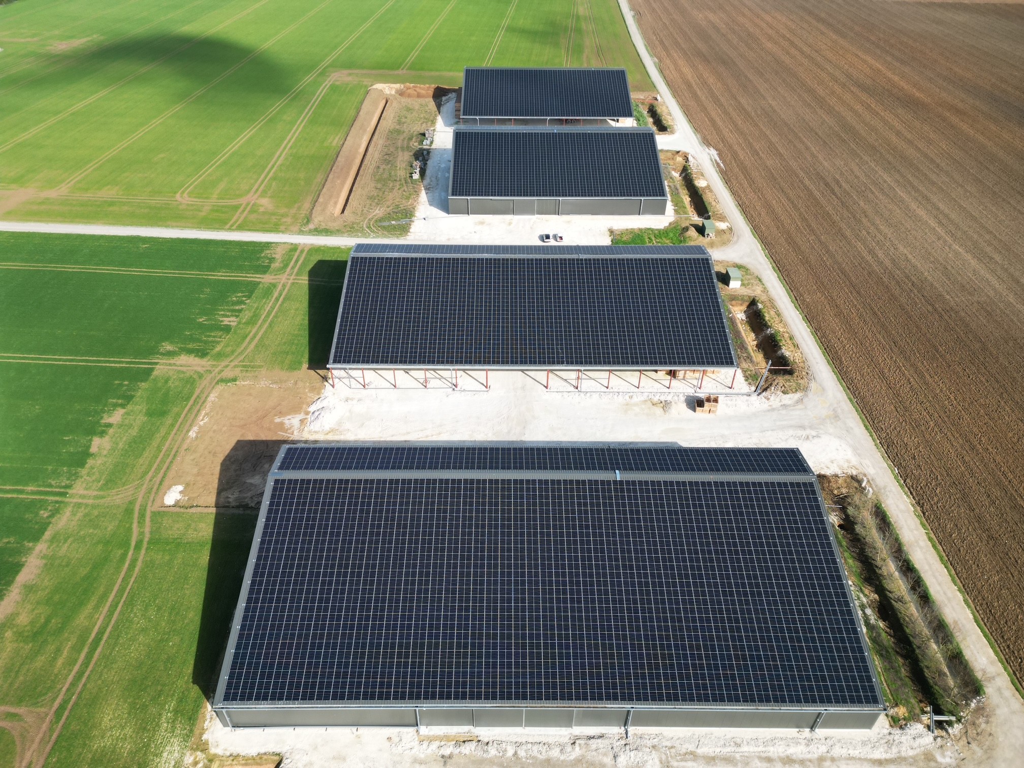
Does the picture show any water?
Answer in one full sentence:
No, the scene doesn't show any water.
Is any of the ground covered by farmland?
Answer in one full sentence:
Yes, the picture does contain farmland.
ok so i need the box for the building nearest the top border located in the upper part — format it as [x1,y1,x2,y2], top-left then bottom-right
[460,66,637,127]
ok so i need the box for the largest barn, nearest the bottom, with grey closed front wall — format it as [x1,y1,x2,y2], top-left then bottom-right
[211,445,888,740]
